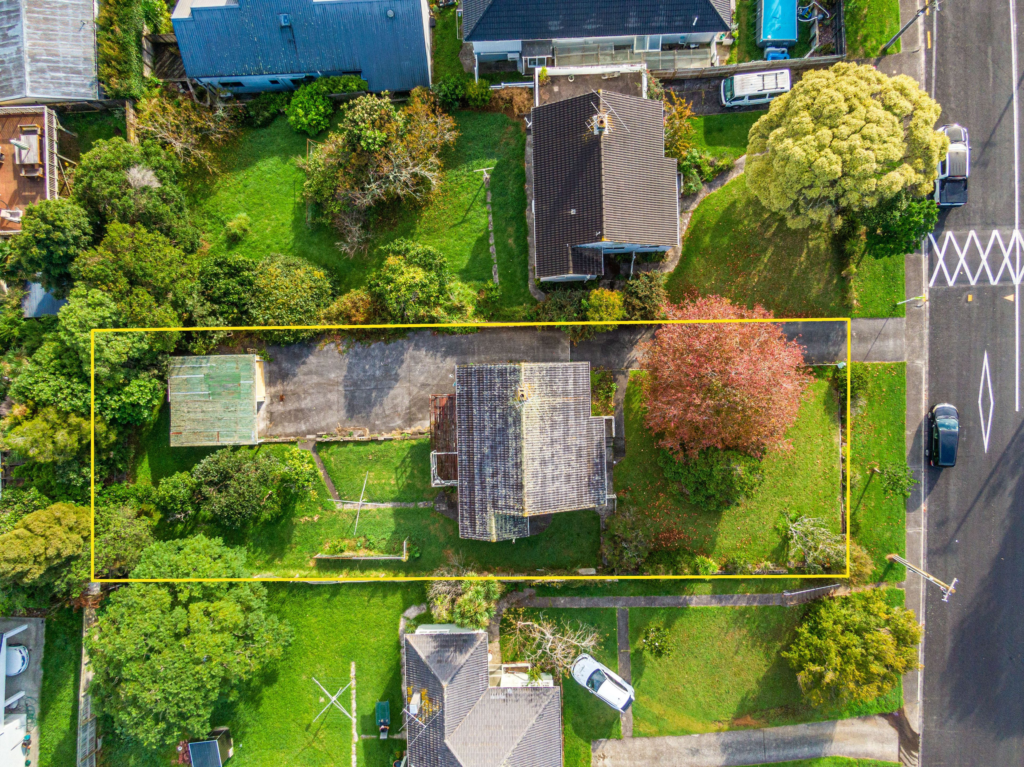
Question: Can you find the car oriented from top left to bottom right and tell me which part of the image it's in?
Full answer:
The car oriented from top left to bottom right sits in the bottom section of the image.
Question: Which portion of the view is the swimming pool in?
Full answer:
Look in the top right portion of the view to spot the swimming pool.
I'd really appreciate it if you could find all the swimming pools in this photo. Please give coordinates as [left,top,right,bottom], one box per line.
[747,0,798,56]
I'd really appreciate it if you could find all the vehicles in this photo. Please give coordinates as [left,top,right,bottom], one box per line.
[923,402,963,469]
[932,125,974,207]
[7,647,22,678]
[574,655,643,721]
[722,68,800,110]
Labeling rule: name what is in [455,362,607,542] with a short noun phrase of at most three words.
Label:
house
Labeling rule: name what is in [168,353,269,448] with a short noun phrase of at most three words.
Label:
building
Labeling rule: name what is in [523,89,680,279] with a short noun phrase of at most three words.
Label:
house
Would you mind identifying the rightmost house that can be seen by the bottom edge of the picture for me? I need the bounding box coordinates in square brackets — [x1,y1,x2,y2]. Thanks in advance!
[403,626,563,767]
